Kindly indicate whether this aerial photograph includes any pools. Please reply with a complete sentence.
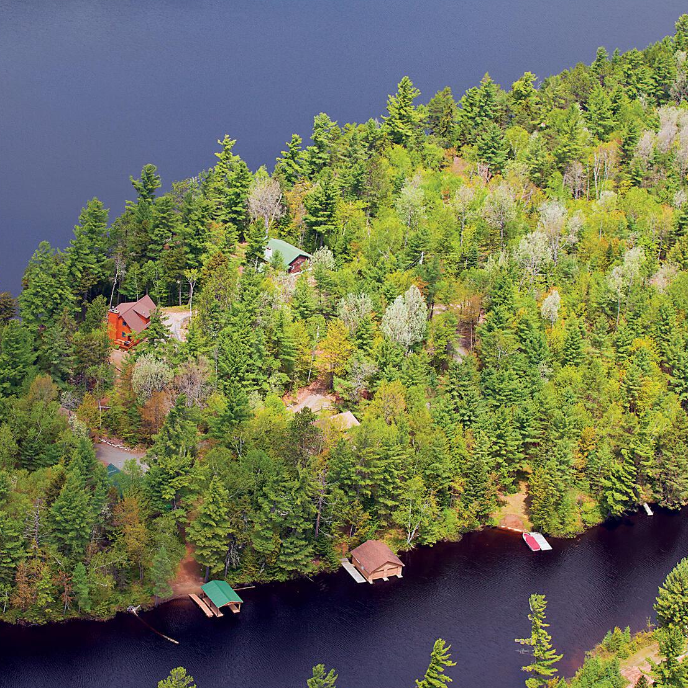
No, the frame has no pool in it.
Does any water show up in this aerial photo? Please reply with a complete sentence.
Yes, there is water in the image.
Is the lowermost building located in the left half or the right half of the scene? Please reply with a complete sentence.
The lowermost building sits on the left side.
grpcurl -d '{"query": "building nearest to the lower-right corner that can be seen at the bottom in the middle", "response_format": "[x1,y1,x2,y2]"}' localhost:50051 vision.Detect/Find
[350,538,403,581]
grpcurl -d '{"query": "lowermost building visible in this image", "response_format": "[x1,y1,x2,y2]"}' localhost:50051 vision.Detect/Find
[202,577,243,618]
